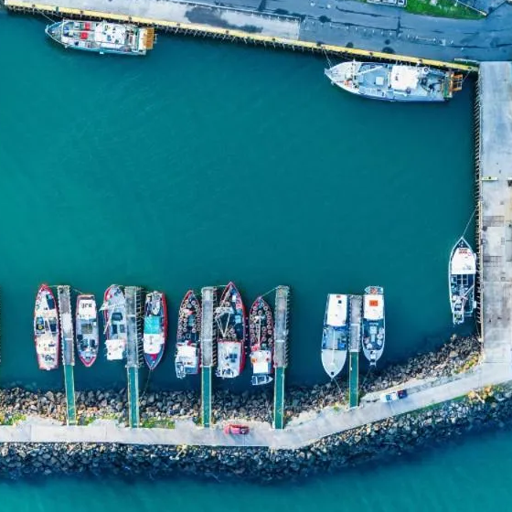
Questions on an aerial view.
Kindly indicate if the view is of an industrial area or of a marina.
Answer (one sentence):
What you see here is a marina.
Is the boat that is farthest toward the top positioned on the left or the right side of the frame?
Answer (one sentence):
You can find the boat that is farthest toward the top on the left side of the picture.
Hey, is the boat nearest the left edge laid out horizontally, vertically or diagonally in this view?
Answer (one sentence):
In this picture, the boat nearest the left edge is oriented vertically.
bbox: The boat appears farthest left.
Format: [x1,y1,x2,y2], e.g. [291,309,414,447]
[34,284,60,371]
